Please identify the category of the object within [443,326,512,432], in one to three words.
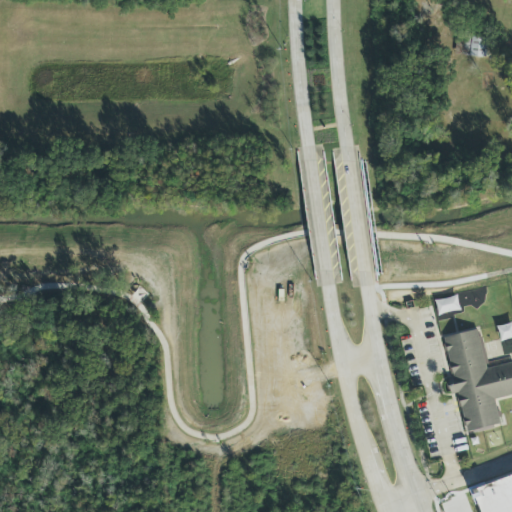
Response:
building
